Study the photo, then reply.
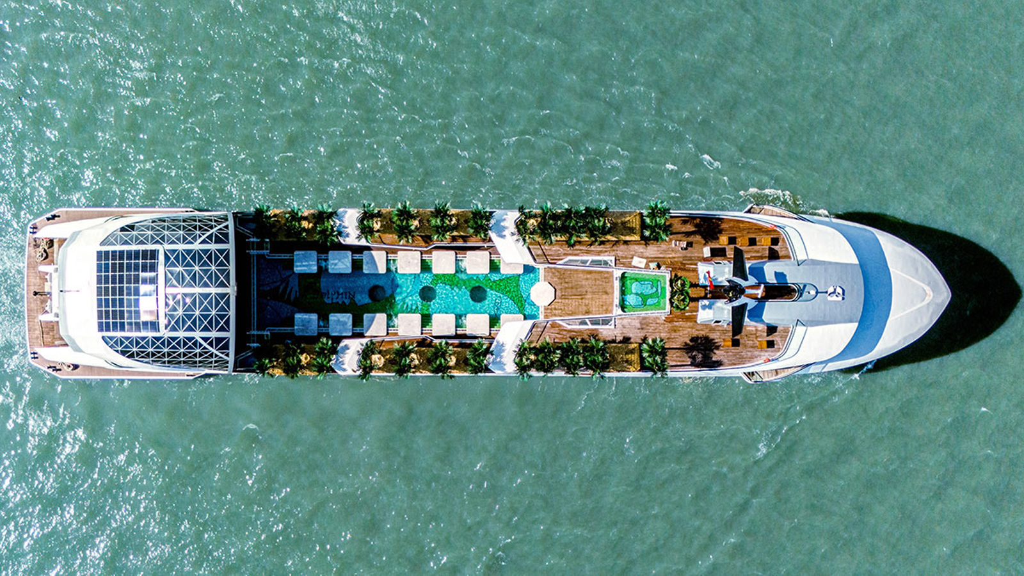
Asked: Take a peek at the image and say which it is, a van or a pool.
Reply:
pool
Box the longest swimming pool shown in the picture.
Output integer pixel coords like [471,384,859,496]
[257,254,544,333]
